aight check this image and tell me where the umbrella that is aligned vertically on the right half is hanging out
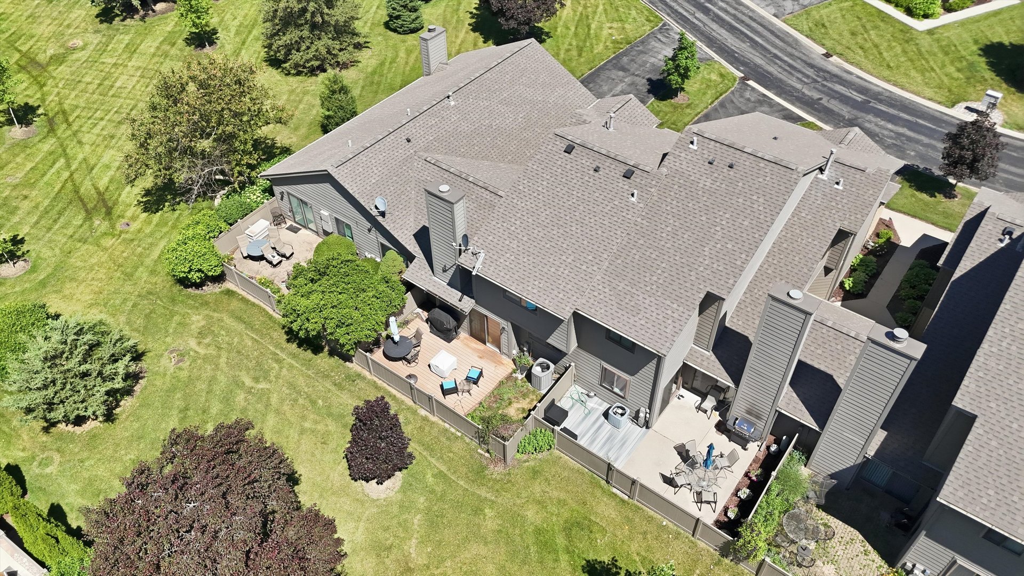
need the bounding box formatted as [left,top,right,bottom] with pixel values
[697,446,715,488]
